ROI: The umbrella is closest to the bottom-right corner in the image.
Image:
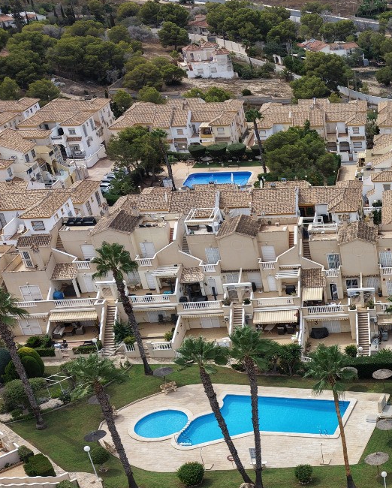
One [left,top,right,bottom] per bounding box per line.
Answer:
[360,452,390,475]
